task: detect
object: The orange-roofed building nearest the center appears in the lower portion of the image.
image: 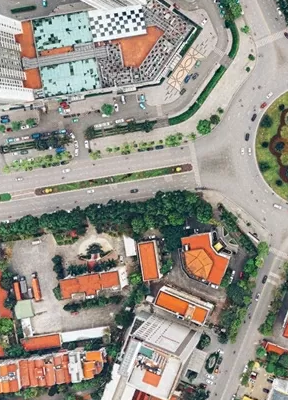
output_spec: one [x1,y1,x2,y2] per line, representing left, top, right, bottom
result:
[137,238,165,282]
